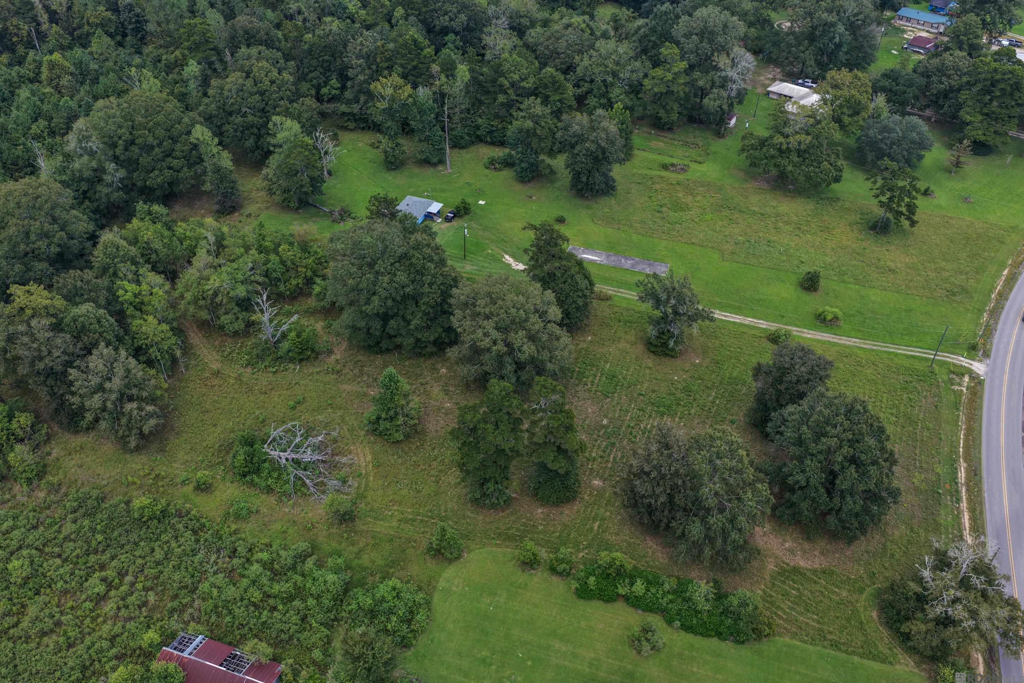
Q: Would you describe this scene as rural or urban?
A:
rural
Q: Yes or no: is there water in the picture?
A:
No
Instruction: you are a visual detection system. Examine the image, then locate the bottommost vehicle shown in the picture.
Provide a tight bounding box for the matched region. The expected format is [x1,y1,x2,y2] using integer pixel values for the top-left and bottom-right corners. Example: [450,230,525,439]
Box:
[442,208,456,222]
